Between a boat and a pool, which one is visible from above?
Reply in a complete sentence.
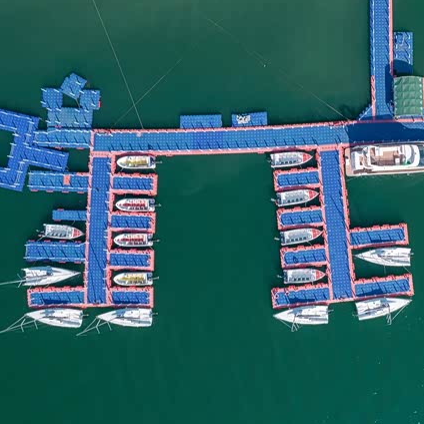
The one in the frame is a boat.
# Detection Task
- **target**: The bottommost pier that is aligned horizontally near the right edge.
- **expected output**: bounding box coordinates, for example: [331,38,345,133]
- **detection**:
[355,274,414,299]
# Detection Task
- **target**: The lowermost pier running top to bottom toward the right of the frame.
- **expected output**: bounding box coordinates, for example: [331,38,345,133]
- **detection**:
[317,149,356,302]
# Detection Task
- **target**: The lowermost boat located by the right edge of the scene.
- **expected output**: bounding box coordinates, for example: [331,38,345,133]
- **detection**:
[351,290,413,322]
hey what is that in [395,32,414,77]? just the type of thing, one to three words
pier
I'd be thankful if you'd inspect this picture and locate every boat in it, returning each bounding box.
[83,308,160,336]
[351,290,413,322]
[274,306,335,334]
[354,248,417,267]
[276,228,323,250]
[113,233,161,252]
[266,153,313,172]
[1,262,83,288]
[278,269,326,288]
[116,155,163,174]
[115,198,163,216]
[38,225,85,242]
[272,191,319,212]
[113,272,160,291]
[345,142,424,178]
[0,308,90,335]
